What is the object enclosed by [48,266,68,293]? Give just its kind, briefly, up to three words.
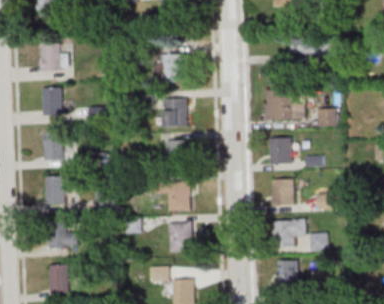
house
